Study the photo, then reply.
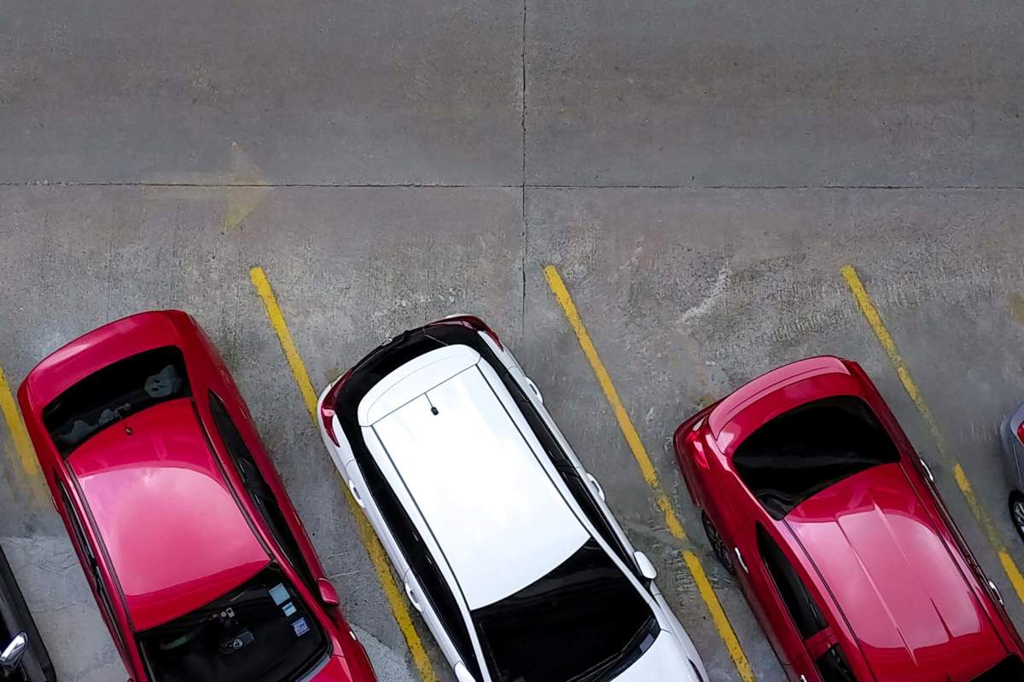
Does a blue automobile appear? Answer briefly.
No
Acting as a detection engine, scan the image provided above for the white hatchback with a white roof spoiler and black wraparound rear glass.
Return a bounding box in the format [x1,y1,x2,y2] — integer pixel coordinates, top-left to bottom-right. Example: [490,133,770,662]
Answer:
[321,314,712,682]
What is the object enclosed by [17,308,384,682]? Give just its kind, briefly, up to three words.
car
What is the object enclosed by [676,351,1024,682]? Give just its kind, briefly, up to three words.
car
